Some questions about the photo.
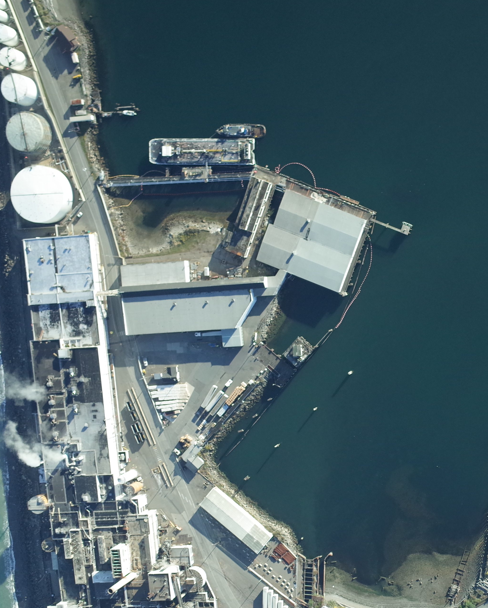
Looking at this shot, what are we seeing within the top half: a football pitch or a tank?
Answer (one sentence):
It is a tank that can be seen within the top half.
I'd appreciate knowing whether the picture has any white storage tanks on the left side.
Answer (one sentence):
Yes, on the left side there is a white storage tank.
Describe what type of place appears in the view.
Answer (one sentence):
It's a port.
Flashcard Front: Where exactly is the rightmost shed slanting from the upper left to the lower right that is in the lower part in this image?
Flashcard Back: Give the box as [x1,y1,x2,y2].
[199,486,277,554]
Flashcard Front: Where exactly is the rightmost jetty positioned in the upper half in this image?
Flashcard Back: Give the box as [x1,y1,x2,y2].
[250,165,377,296]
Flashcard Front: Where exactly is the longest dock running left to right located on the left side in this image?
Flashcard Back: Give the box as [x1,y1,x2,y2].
[110,173,251,187]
